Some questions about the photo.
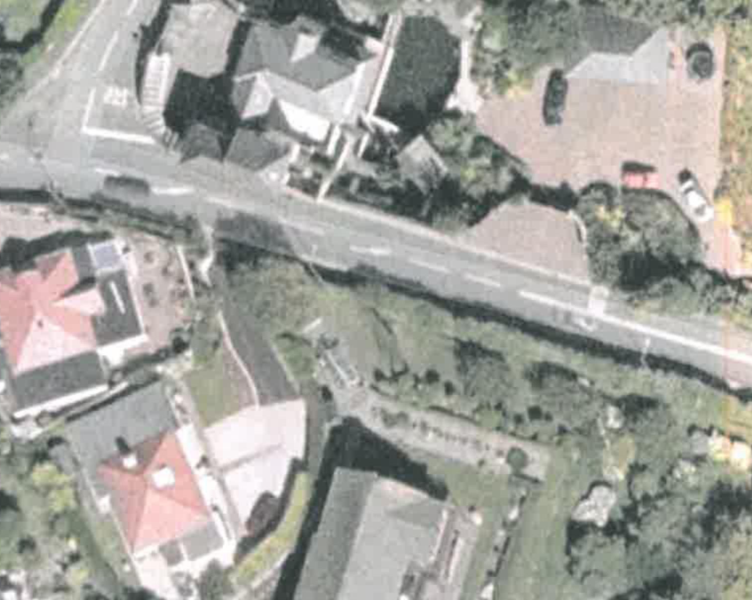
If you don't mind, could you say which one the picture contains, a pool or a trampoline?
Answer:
trampoline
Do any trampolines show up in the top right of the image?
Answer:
Yes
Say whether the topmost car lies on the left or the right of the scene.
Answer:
right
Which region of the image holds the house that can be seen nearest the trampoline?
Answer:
top right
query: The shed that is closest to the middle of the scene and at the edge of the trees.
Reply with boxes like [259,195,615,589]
[399,141,448,197]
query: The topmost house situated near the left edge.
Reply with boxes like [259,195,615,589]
[0,235,146,415]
